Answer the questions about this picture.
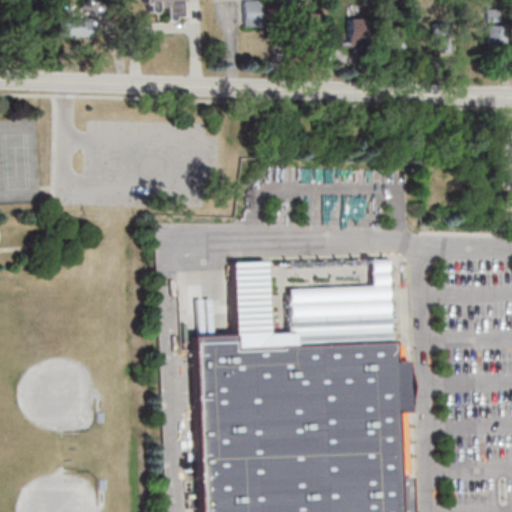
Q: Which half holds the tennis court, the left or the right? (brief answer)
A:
left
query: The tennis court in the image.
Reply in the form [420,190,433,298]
[0,121,38,204]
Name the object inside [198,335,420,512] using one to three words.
building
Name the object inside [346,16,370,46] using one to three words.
house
